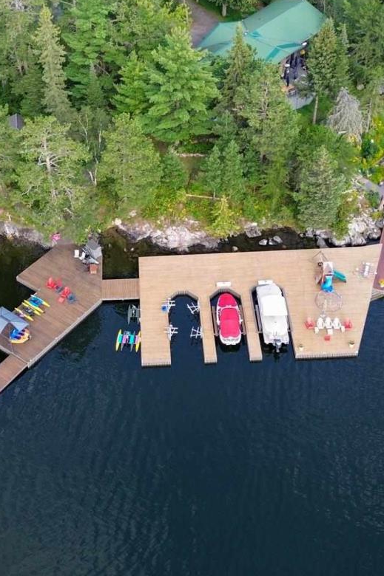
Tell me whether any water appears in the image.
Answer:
Yes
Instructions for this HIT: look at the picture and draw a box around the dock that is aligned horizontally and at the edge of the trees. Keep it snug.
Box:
[139,244,383,367]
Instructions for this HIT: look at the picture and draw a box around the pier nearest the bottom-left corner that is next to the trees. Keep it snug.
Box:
[0,242,103,366]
